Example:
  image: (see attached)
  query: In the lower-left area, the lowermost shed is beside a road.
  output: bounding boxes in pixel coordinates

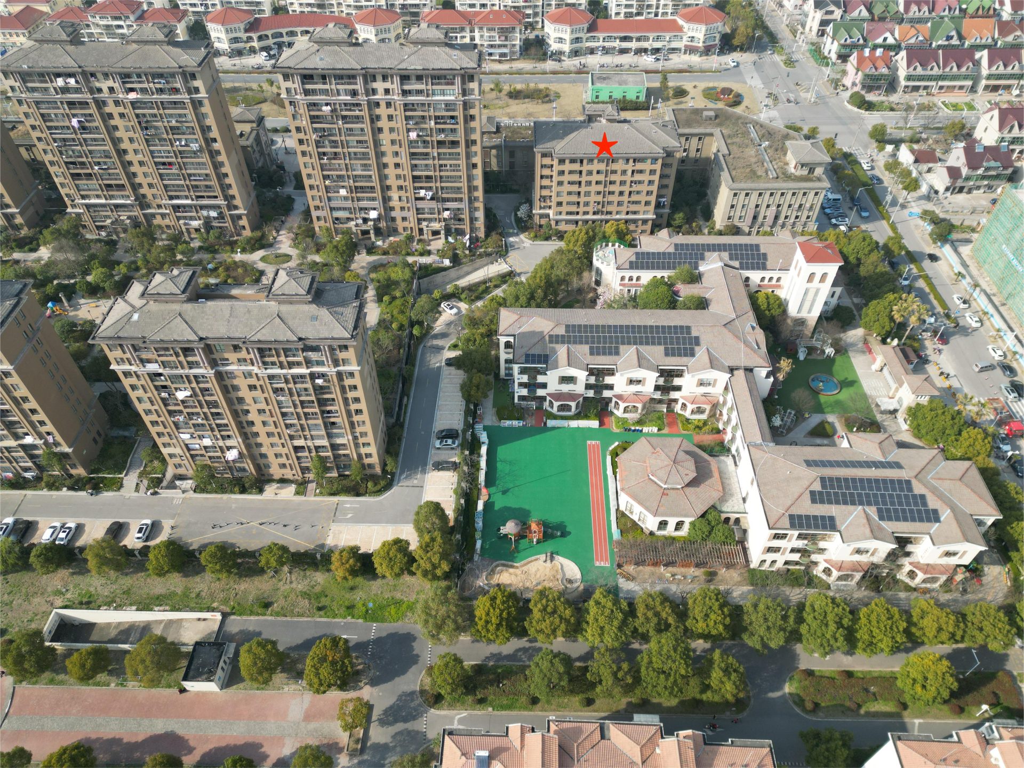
[181,639,239,690]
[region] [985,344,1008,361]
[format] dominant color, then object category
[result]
white car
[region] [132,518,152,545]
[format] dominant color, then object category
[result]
white car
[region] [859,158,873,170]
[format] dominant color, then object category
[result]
white vehicle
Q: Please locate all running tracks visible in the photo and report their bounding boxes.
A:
[587,441,610,565]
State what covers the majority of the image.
buildings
